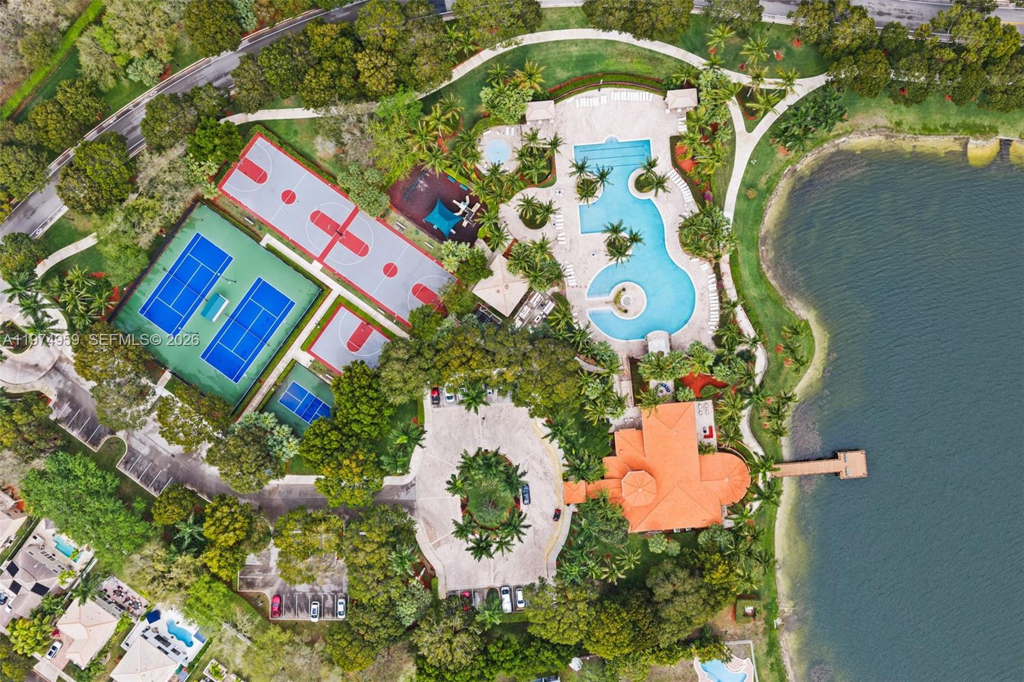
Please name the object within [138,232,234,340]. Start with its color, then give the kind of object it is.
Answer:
blue tennis court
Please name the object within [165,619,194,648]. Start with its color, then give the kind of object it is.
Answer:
blue swimming pool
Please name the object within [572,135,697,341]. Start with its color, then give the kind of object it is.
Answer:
blue swimming pool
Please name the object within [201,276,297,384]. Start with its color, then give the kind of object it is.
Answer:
blue tennis court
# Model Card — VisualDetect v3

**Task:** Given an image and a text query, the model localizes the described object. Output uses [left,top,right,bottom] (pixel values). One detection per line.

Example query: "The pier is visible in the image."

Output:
[771,451,870,479]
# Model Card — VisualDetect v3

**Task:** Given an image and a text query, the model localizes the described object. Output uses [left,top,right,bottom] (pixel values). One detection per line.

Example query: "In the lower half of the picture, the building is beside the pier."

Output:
[563,401,753,533]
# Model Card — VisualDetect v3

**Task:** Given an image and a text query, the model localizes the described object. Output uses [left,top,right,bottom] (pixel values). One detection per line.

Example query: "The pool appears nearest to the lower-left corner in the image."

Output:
[52,533,82,564]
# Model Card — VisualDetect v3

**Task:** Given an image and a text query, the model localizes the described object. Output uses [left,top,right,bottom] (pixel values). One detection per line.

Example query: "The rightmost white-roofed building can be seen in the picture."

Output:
[666,88,698,112]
